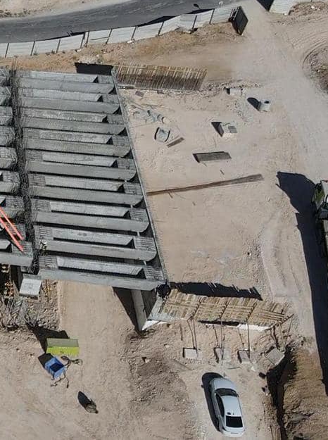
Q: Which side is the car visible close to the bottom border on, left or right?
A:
right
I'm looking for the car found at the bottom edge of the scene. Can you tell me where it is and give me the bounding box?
[212,373,249,439]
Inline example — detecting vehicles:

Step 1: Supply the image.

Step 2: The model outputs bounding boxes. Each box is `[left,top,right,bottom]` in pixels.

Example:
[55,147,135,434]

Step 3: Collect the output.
[311,180,328,284]
[212,373,249,439]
